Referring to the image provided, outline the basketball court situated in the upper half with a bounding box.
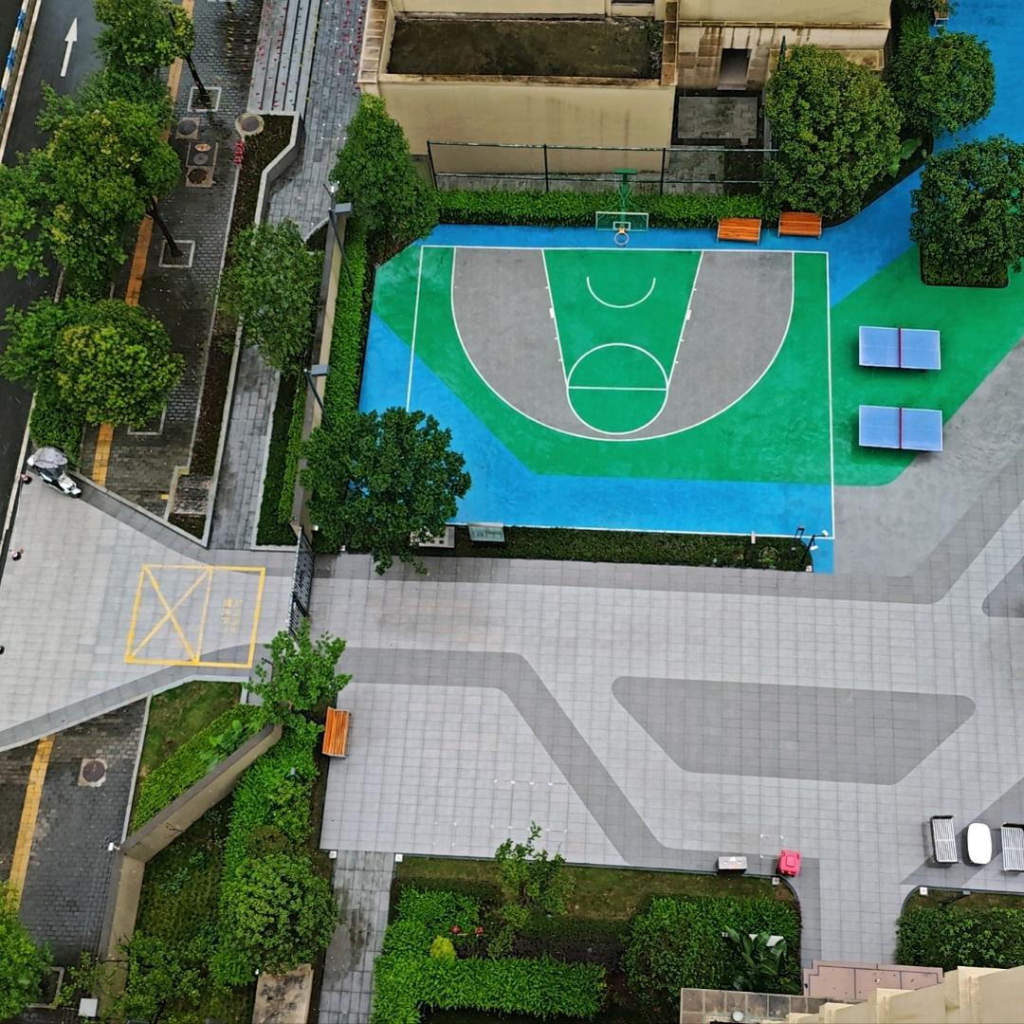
[355,225,839,571]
